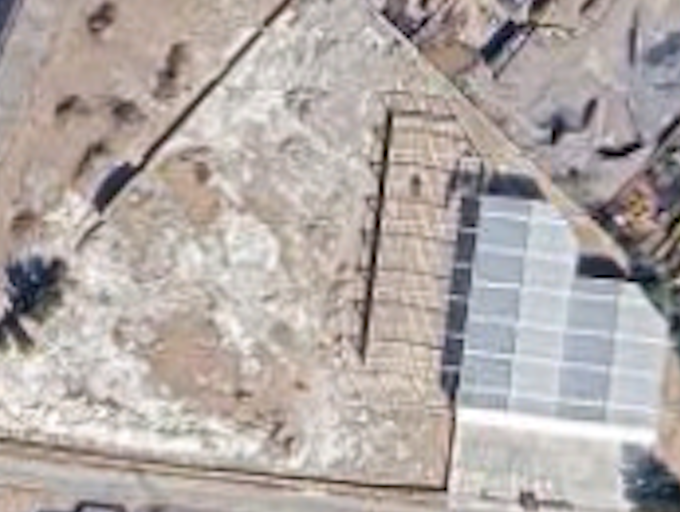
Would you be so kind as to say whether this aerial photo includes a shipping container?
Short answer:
Yes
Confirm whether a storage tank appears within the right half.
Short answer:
No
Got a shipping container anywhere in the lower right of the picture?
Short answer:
No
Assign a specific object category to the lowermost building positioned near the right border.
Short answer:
warehouse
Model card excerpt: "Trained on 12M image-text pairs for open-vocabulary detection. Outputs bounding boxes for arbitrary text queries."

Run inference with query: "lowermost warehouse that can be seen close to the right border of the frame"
[444,198,670,440]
